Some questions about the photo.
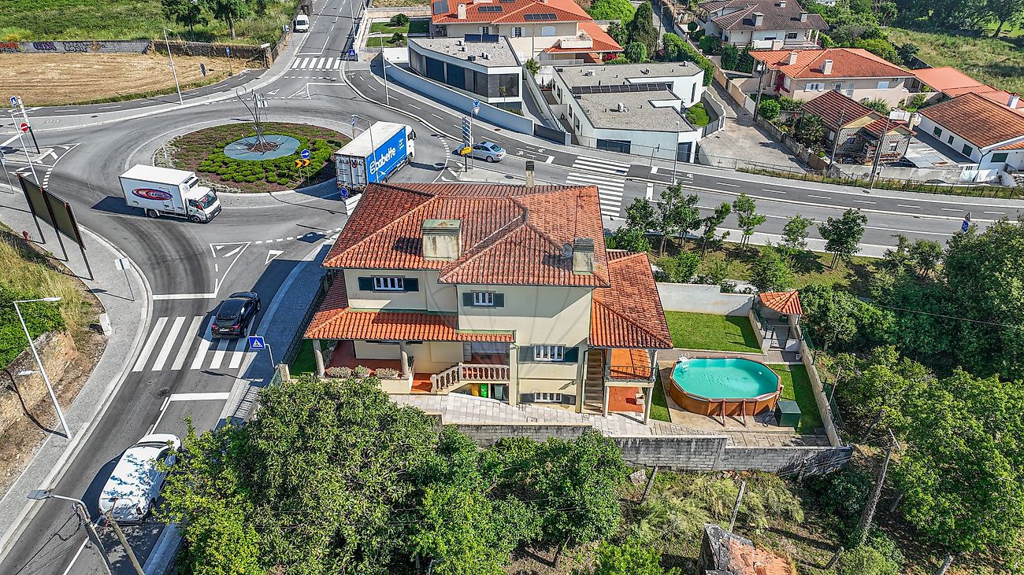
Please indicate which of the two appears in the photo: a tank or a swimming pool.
swimming pool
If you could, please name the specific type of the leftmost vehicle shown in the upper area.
truck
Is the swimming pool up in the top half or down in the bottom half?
bottom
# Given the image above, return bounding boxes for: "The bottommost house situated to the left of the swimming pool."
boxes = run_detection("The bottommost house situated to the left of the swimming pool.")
[303,162,671,418]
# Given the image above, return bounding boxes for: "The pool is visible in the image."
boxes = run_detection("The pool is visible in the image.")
[668,356,782,423]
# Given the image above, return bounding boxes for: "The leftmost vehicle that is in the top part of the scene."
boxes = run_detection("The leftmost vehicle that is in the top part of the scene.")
[117,159,220,222]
